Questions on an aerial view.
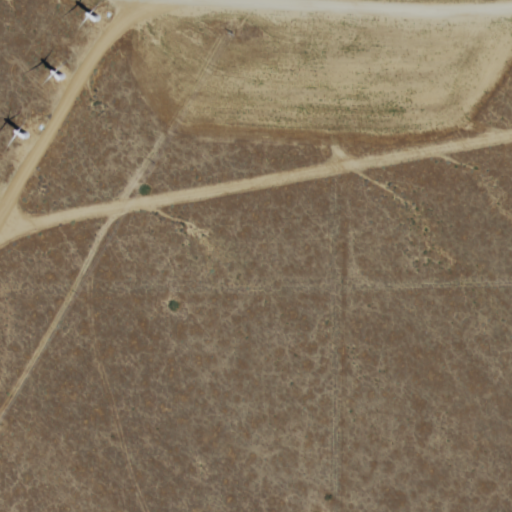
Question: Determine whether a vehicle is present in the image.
No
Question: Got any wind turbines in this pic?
Yes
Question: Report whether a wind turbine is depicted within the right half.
No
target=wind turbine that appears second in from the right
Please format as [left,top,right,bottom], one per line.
[40,59,67,86]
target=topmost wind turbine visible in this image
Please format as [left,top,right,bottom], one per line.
[76,0,102,26]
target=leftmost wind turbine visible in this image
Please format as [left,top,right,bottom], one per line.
[4,116,31,148]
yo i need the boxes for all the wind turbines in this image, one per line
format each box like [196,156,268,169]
[40,59,67,86]
[4,116,31,148]
[76,0,102,26]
